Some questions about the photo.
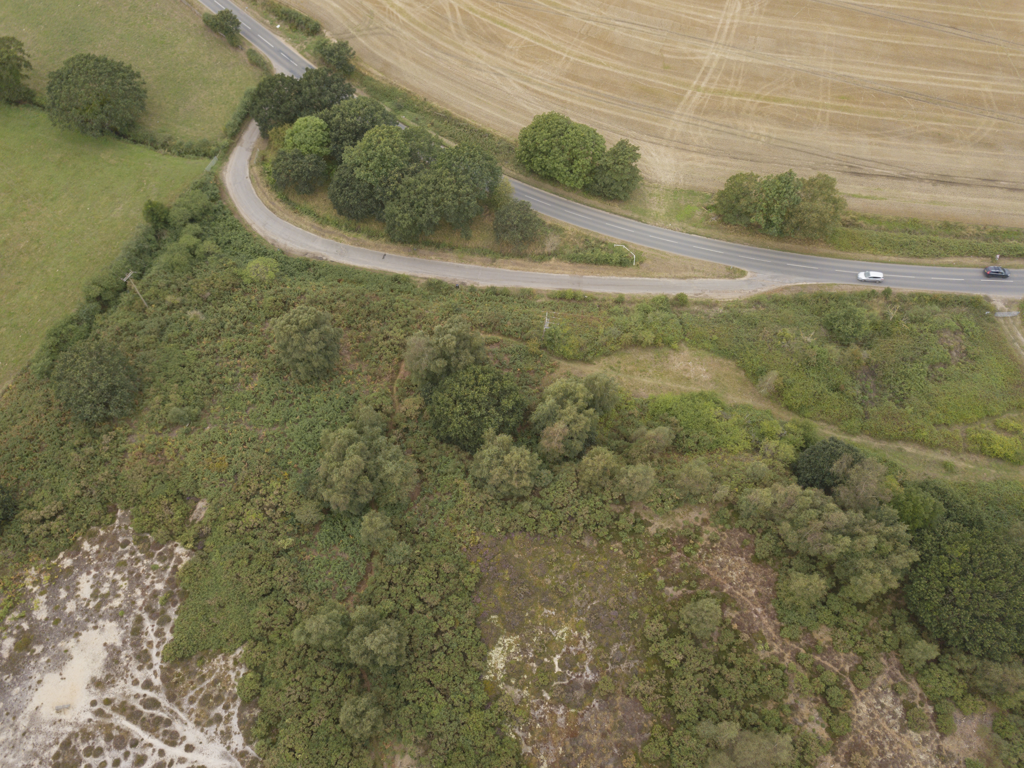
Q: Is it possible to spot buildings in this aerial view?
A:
No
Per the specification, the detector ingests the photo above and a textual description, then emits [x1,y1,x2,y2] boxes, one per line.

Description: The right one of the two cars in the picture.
[984,266,1011,279]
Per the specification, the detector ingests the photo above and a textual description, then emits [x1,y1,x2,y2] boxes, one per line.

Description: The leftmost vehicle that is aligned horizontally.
[859,270,885,283]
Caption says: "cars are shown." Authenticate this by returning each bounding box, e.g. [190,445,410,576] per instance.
[984,266,1011,279]
[859,270,885,283]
